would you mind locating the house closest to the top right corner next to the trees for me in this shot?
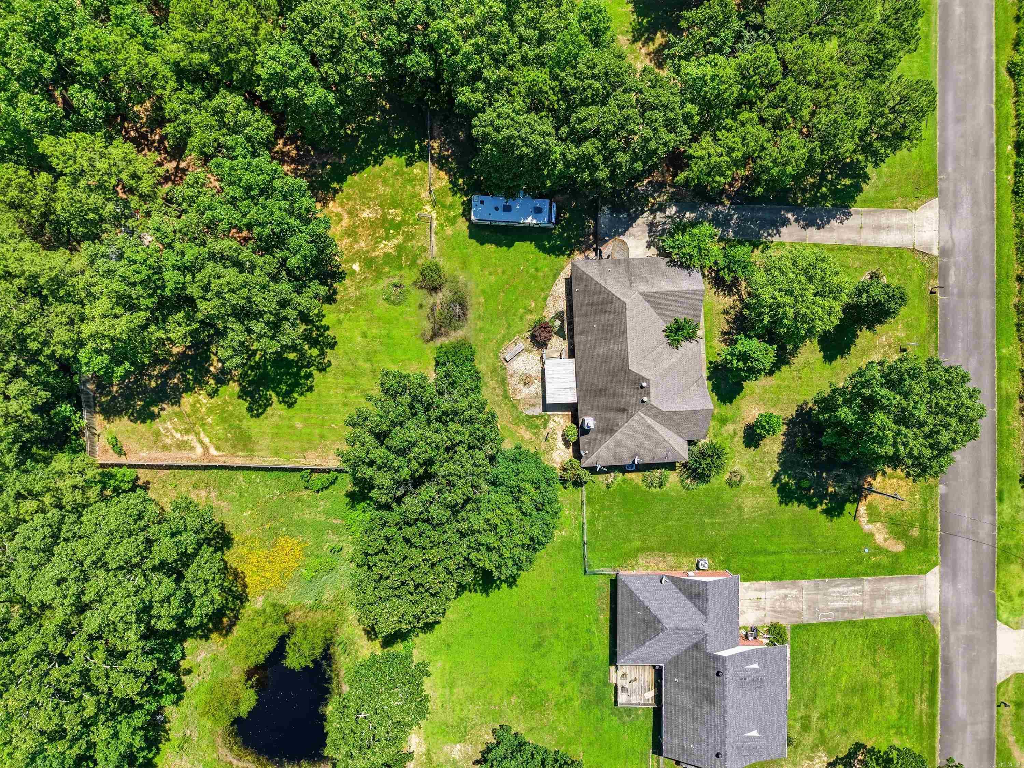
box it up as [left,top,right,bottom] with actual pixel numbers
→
[571,260,714,470]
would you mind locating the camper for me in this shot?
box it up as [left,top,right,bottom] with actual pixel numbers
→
[471,194,557,229]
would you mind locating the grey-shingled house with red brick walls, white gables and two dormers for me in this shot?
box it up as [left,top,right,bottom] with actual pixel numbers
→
[616,571,789,768]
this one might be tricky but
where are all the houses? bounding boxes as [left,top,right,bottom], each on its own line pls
[616,571,789,768]
[571,260,714,470]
